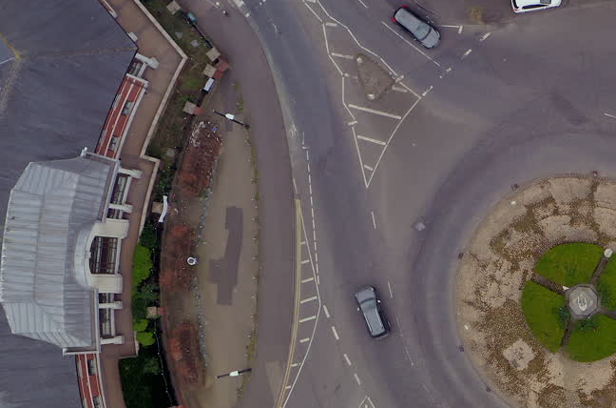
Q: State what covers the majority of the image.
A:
paved ground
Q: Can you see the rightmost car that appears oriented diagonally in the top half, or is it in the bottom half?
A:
top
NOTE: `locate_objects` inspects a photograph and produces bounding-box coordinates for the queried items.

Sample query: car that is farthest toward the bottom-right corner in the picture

[356,285,388,339]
